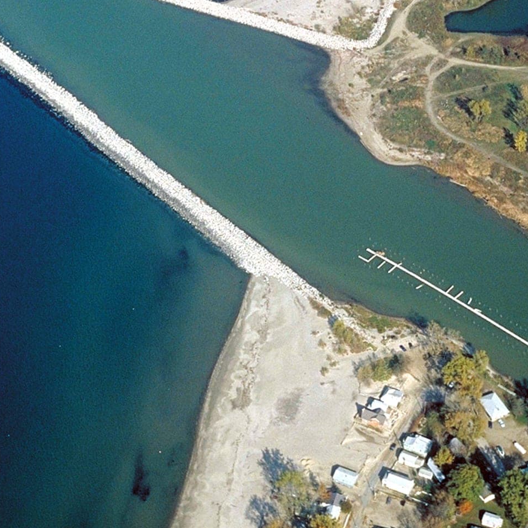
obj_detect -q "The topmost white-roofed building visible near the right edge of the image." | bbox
[480,392,509,425]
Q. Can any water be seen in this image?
Yes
